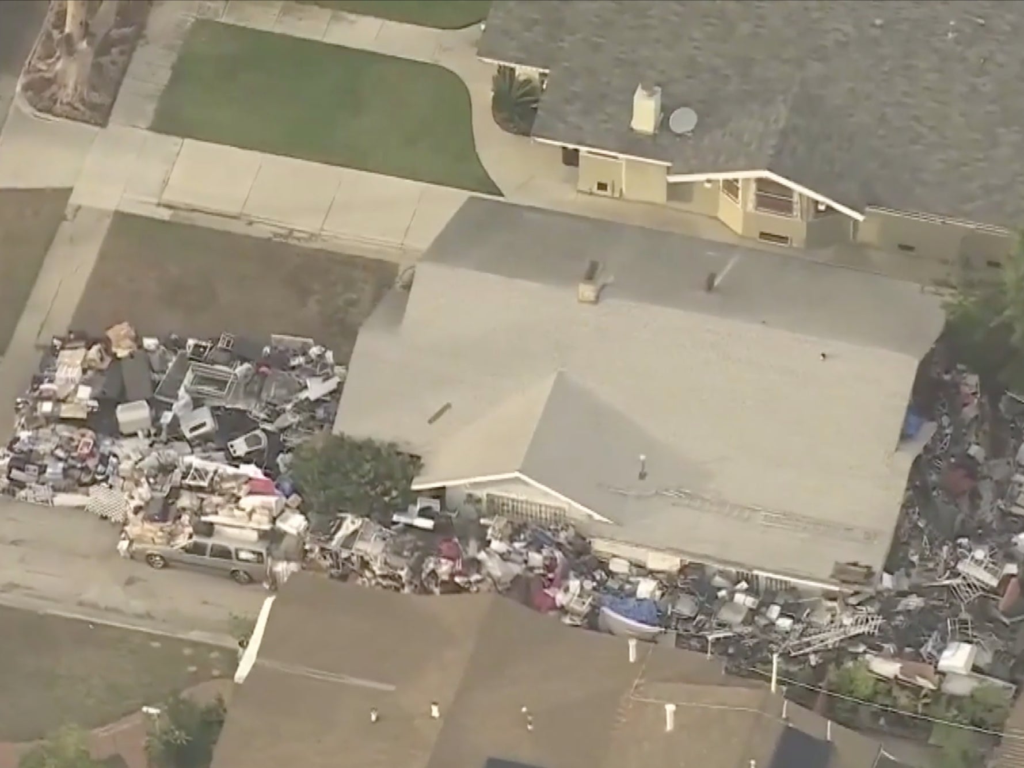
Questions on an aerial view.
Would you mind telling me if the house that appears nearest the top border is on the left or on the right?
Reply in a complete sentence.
It is on the right.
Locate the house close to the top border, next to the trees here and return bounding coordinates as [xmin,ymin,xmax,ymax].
[478,0,1024,266]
